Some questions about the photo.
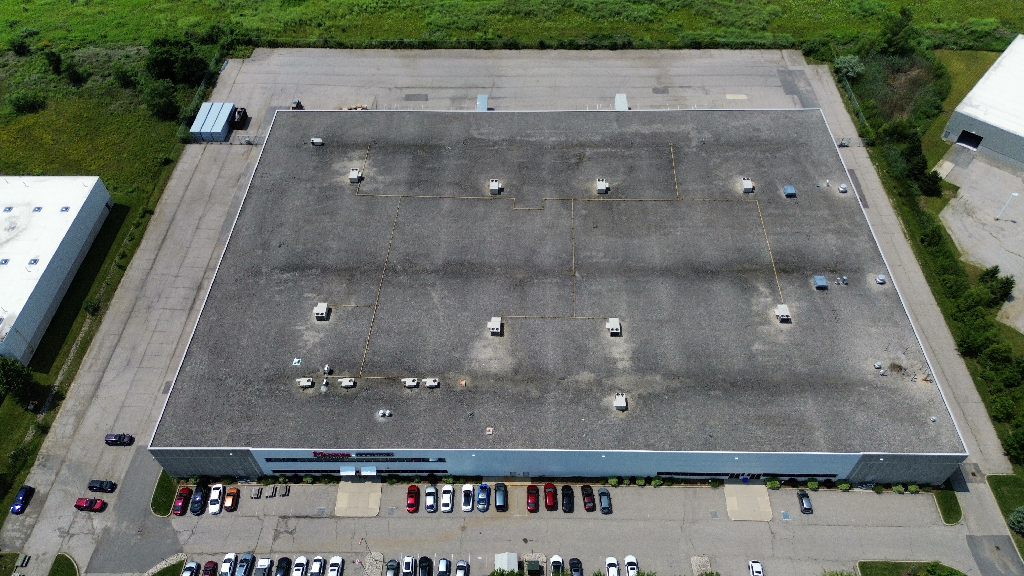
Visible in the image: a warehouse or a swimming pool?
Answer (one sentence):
Of the two, only a warehouse appears.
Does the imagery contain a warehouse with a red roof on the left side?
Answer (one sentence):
No, there's no warehouse with a red roof to be seen on the left side.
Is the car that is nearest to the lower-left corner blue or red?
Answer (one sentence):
The car that is nearest to the lower-left corner looks blue in the image.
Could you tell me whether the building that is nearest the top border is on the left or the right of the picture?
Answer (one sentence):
The building that is nearest the top border is on the right side of the image.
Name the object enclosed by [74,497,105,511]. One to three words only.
car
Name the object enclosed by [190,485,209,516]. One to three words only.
car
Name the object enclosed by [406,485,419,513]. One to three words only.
vehicle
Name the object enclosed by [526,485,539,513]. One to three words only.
vehicle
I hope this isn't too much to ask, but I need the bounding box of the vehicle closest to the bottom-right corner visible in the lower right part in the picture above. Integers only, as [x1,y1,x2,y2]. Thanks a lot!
[796,490,813,515]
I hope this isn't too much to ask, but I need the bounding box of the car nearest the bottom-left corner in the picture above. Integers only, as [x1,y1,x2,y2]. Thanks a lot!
[11,487,32,512]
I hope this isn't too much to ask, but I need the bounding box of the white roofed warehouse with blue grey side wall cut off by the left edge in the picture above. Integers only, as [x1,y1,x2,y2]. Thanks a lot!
[0,176,116,361]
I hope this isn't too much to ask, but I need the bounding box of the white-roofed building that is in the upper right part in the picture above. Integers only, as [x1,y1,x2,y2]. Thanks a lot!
[941,36,1024,172]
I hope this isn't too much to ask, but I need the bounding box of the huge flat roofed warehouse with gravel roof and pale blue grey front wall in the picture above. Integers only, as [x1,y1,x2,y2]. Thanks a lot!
[148,108,970,490]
